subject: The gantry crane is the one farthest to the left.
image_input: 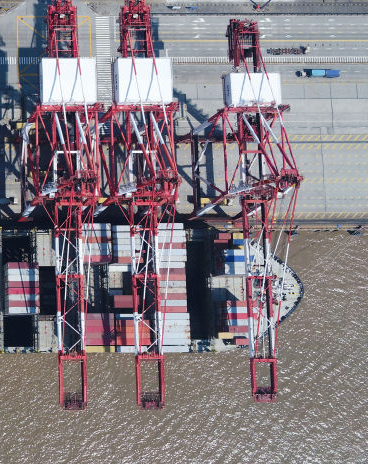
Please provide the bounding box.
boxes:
[8,0,109,414]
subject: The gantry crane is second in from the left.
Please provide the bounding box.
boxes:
[77,0,184,414]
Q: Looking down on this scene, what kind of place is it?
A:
port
